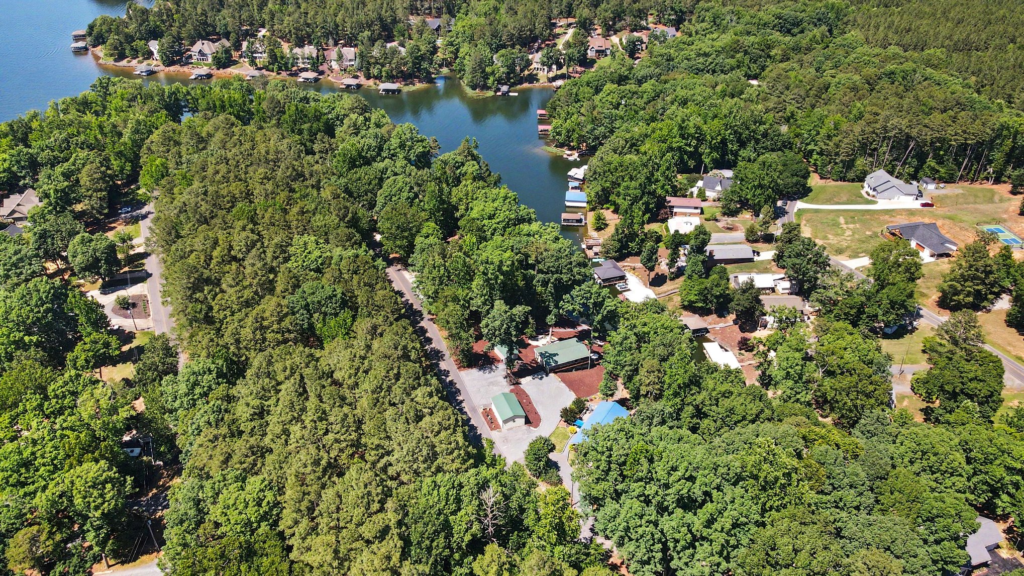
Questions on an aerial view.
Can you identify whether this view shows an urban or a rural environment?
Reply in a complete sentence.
From above, the setting appears rural.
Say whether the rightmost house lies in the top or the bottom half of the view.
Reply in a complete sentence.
The rightmost house sits in the bottom half of the picture.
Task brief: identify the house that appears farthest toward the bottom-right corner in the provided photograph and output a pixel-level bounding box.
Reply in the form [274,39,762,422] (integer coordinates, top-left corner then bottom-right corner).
[945,519,1004,575]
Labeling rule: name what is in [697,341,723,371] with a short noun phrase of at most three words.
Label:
building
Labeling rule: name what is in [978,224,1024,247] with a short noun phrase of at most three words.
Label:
sports court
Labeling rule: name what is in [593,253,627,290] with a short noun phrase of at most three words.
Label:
building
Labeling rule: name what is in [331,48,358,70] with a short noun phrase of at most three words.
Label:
house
